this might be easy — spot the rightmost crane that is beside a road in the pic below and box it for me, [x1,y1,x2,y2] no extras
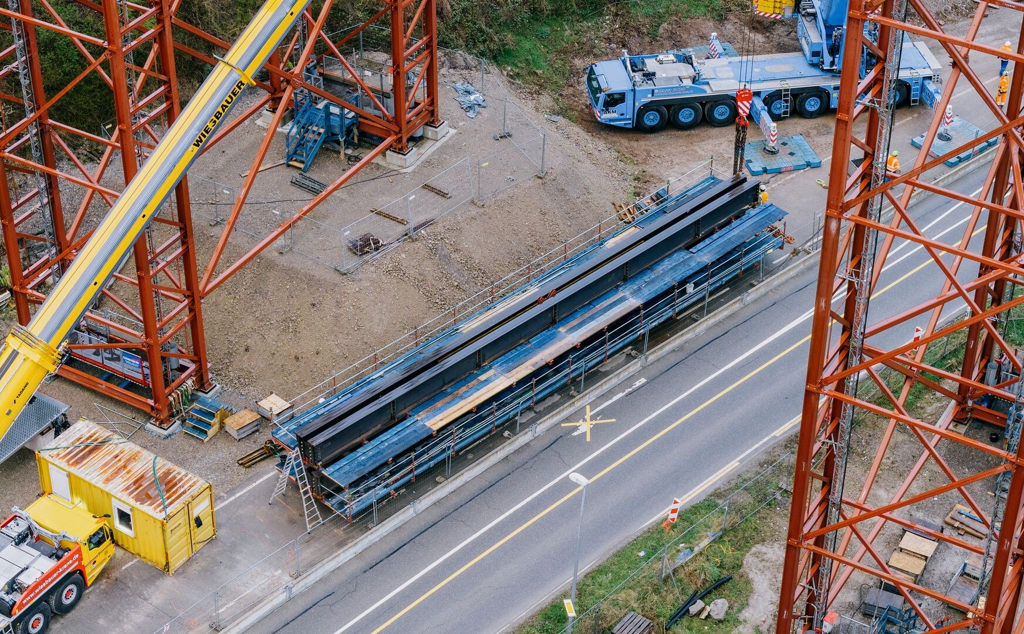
[576,0,953,155]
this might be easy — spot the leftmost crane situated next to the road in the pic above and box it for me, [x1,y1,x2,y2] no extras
[0,0,310,634]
